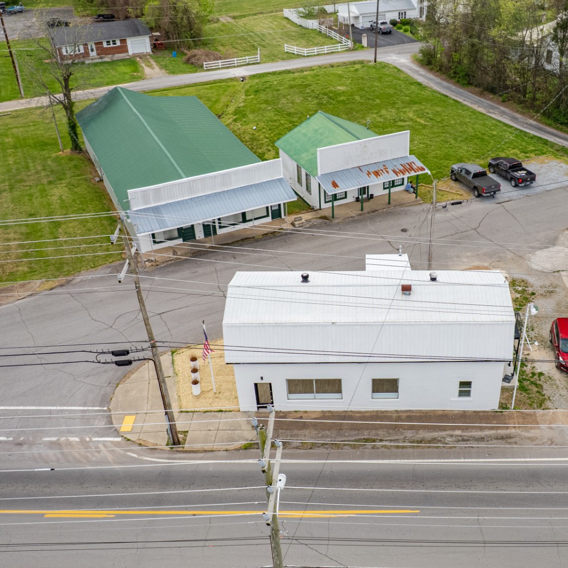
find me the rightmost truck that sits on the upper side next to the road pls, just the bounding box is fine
[484,149,546,187]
